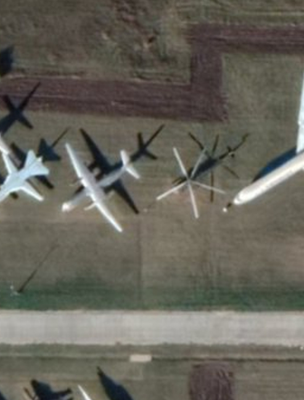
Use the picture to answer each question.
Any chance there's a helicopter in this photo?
Yes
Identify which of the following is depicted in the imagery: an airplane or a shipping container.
airplane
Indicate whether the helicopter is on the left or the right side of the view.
right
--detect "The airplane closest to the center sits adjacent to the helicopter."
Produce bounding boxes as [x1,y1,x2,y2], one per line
[63,144,139,231]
